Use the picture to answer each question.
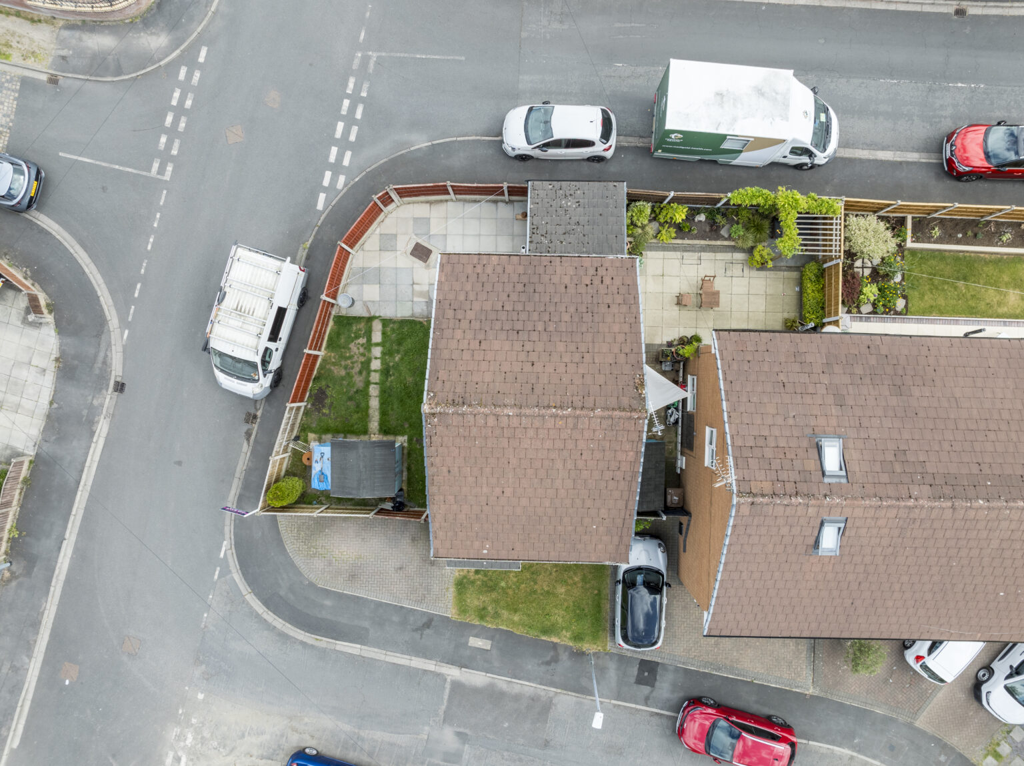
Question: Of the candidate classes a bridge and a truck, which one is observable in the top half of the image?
truck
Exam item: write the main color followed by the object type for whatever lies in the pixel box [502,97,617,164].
white car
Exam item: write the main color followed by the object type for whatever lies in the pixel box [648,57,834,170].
white truck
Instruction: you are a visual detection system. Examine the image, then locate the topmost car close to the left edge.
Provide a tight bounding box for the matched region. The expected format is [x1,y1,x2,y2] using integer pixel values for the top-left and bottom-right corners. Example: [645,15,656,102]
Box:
[0,147,53,215]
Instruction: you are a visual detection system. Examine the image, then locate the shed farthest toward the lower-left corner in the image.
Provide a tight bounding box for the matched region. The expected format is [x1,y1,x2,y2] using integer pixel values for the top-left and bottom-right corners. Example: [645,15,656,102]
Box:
[330,439,403,500]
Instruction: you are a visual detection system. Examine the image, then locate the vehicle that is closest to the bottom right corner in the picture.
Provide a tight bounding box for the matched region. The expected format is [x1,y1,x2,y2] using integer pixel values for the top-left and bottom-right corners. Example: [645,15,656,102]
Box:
[972,646,1024,730]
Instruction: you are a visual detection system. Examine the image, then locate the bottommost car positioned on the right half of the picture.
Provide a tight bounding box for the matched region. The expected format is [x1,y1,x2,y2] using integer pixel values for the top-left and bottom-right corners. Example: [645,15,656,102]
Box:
[673,694,801,766]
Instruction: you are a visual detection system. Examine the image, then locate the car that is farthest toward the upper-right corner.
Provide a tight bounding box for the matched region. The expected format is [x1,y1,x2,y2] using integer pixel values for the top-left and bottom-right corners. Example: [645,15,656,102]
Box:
[936,114,1024,184]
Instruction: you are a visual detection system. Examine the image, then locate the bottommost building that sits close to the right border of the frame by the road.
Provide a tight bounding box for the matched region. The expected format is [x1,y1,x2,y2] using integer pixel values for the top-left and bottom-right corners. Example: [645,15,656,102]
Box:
[677,308,1024,647]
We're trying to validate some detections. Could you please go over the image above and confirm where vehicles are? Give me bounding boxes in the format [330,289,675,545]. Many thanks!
[673,694,801,766]
[208,245,310,399]
[281,746,353,766]
[610,533,673,653]
[648,57,834,170]
[0,147,53,215]
[502,97,617,164]
[902,644,991,683]
[936,114,1024,184]
[972,646,1024,730]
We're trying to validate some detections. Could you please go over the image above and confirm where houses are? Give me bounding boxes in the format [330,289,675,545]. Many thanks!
[407,178,663,575]
[677,308,1024,647]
